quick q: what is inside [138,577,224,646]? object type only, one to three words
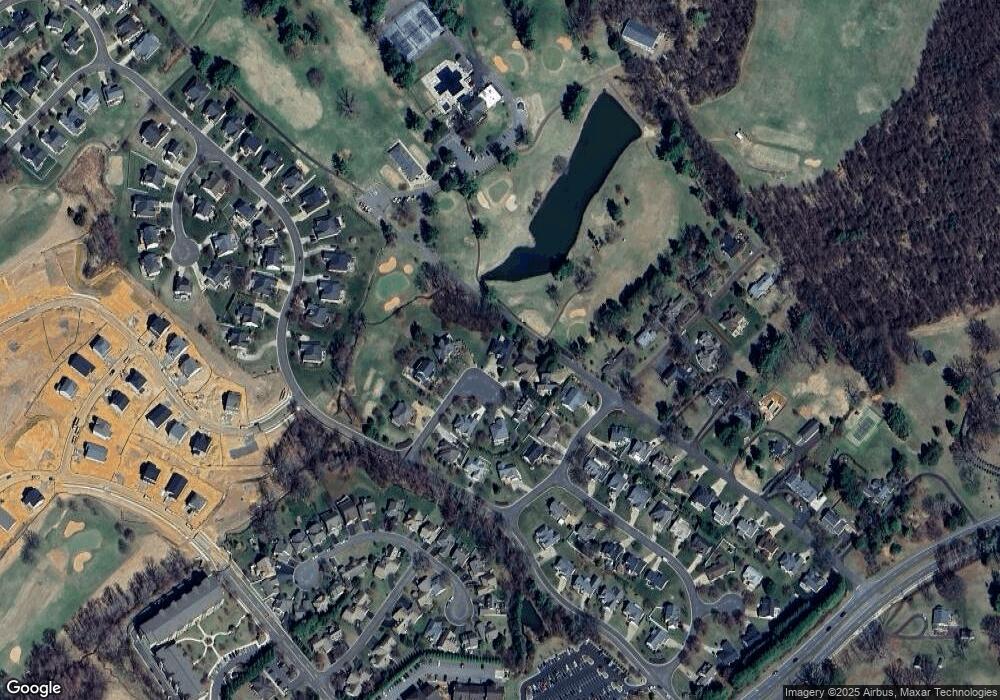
building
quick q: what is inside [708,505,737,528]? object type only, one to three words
house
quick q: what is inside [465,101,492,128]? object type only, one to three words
building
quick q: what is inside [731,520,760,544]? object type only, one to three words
house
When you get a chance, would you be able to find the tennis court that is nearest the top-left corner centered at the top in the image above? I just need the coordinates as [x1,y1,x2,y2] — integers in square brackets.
[380,2,443,60]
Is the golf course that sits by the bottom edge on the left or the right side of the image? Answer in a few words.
left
